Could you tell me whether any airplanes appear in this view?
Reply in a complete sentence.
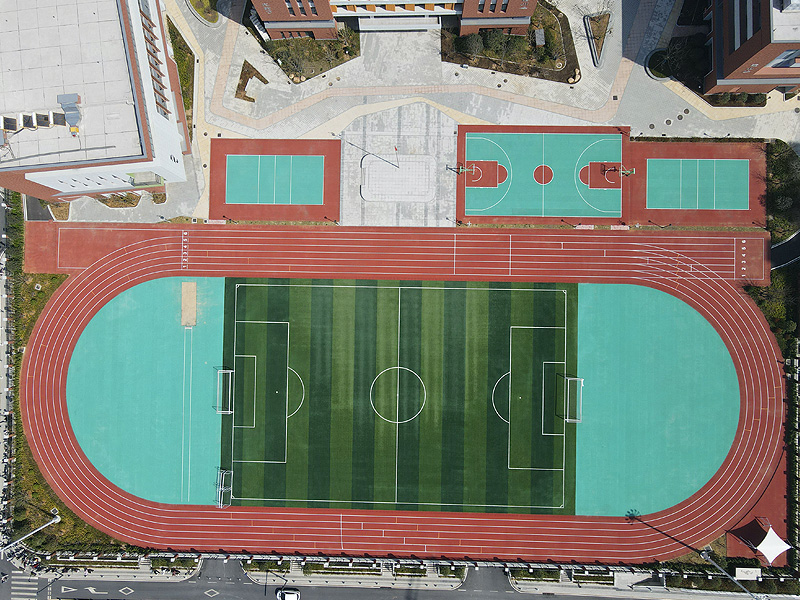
No, there isn't any airplane down there.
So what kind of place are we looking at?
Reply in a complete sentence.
This image shows a sports ground.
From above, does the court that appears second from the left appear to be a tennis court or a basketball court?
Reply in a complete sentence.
Specifically, the court that appears second from the left is a basketball court.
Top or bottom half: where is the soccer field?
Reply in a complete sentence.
The soccer field is in the bottom half of the image.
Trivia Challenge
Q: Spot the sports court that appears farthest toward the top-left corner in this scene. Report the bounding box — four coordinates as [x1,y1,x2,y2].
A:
[209,139,341,221]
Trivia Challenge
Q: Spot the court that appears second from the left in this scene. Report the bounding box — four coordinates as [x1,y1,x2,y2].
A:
[456,126,630,226]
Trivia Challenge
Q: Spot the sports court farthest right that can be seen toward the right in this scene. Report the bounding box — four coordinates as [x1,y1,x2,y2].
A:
[630,141,766,228]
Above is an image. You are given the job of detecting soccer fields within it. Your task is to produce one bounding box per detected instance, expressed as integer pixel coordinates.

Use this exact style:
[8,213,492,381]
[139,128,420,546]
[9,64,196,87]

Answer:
[220,278,577,515]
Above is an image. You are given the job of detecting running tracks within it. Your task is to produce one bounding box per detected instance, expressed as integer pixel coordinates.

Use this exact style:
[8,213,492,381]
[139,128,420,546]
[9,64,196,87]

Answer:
[20,222,788,566]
